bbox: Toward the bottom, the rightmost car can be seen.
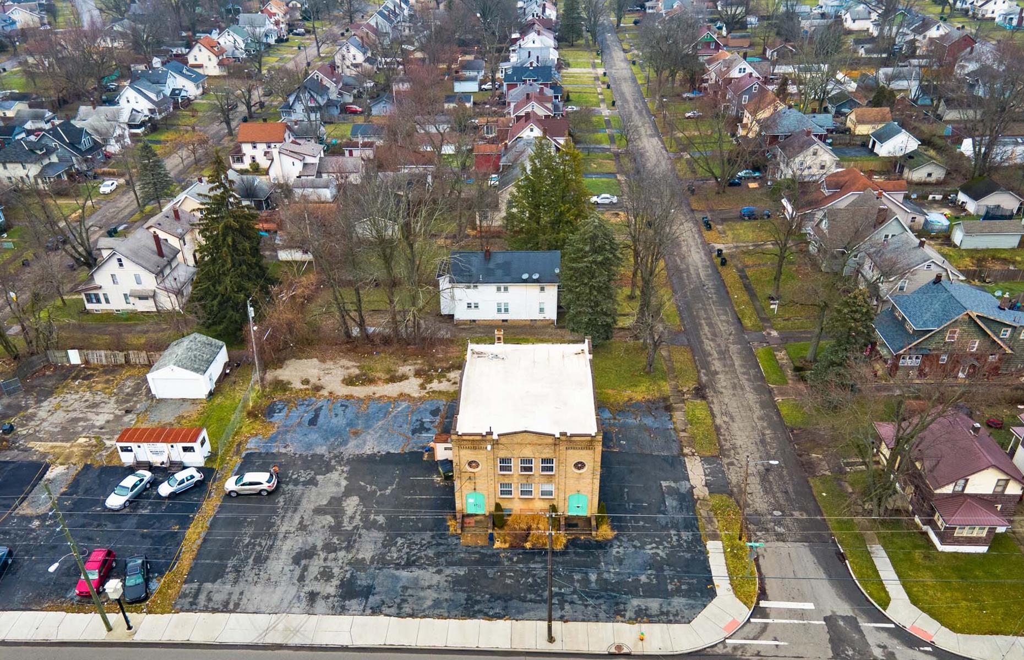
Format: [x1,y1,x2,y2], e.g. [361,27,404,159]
[221,471,280,499]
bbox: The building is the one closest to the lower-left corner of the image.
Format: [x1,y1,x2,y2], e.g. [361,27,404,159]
[146,321,238,395]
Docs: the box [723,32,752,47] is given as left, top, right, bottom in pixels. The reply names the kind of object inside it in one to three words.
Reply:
building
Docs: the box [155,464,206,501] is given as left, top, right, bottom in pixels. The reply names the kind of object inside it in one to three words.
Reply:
car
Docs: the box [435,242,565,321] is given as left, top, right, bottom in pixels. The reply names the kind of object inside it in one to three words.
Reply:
house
